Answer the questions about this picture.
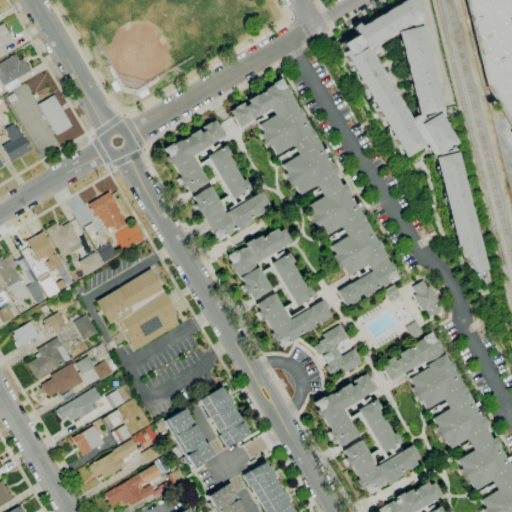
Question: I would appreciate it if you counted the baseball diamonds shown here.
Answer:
one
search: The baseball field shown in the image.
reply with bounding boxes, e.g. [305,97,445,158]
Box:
[108,20,172,94]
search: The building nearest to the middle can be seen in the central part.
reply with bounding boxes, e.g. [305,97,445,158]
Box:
[228,228,289,299]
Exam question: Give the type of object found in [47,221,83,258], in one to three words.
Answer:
house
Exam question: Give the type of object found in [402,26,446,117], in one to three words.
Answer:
building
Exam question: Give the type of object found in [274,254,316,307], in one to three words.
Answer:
building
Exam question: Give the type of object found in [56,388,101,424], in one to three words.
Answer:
house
